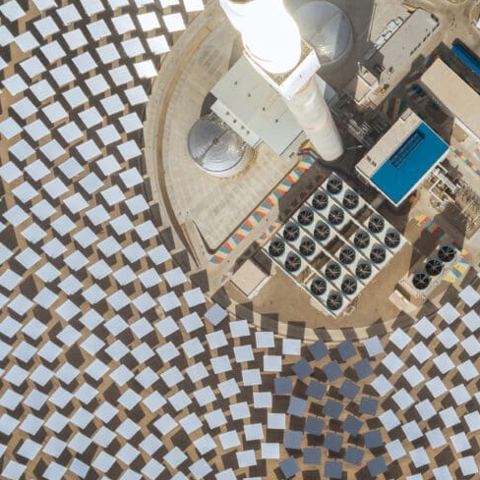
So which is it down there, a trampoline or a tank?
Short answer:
tank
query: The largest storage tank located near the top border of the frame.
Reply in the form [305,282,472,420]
[297,1,359,71]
